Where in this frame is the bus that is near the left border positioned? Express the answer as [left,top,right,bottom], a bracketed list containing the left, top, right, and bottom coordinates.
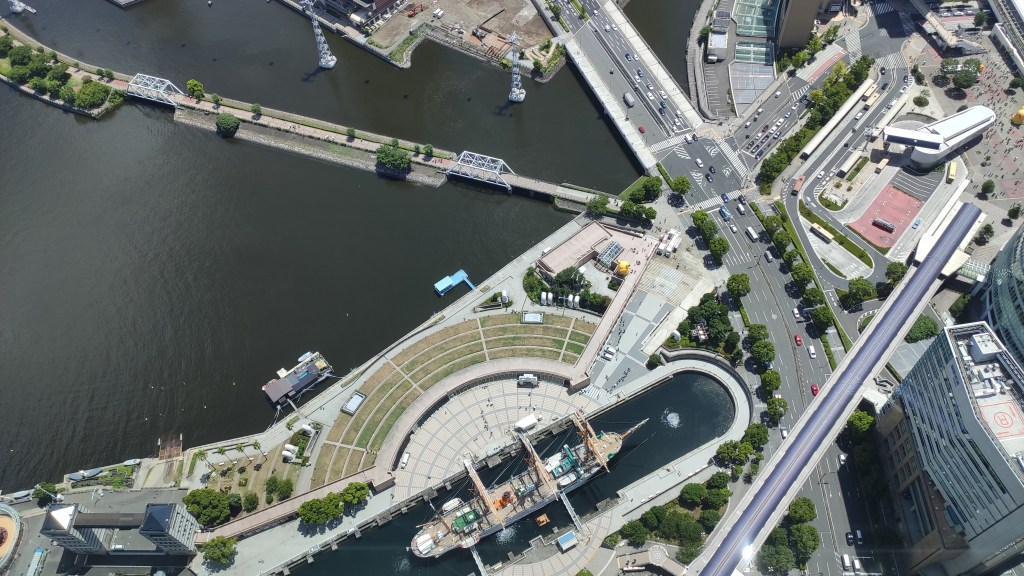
[22,542,49,576]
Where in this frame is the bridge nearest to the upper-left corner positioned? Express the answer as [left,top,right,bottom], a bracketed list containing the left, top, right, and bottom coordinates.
[126,72,187,108]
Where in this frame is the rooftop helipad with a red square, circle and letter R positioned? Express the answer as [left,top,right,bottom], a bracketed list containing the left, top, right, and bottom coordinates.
[977,397,1024,447]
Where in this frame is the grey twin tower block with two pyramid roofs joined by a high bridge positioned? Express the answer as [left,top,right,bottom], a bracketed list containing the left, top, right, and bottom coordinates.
[39,501,203,571]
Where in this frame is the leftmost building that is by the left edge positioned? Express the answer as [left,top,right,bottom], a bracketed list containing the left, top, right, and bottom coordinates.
[0,495,34,566]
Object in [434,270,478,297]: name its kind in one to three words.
pier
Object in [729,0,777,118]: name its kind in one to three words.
building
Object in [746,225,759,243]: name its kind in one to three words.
vehicle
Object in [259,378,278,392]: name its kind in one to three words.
boat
